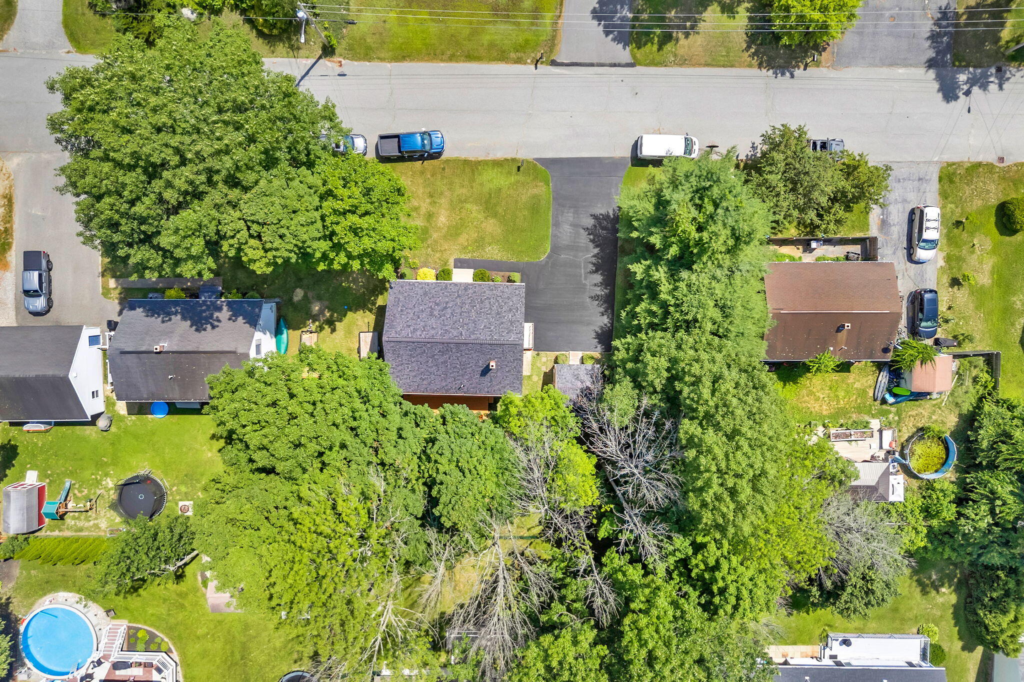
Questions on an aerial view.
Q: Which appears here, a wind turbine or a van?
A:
van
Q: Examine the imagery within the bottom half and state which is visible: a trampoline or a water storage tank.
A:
trampoline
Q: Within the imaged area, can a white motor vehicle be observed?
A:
Yes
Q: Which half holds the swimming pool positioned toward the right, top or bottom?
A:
bottom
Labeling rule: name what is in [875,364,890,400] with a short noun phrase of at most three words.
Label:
boat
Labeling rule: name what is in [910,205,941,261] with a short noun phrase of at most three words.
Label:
car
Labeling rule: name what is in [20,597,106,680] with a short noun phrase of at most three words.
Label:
swimming pool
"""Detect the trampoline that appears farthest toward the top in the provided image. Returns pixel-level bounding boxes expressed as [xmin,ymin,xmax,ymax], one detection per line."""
[102,468,166,523]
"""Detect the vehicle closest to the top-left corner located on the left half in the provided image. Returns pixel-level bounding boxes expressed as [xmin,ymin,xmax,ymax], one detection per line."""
[16,250,51,313]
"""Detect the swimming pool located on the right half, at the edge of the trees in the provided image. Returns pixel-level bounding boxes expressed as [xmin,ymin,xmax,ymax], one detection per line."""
[900,430,957,480]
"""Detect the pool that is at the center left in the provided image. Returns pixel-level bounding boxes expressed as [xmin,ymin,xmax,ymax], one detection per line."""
[149,402,168,419]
